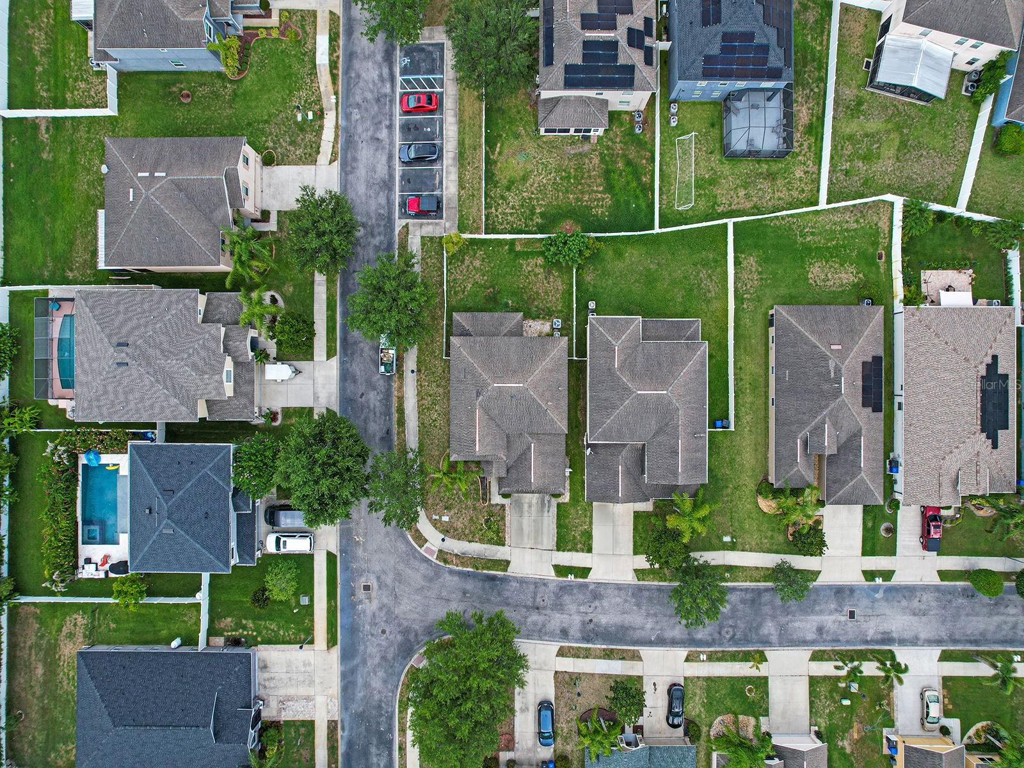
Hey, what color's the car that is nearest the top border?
red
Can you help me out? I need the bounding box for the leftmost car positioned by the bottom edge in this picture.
[536,701,555,743]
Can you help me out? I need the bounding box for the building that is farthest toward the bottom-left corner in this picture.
[76,646,269,768]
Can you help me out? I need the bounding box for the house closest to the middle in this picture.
[449,312,568,495]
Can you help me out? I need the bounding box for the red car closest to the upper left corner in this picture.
[401,93,440,114]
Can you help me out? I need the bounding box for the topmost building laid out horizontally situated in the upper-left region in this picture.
[93,0,263,69]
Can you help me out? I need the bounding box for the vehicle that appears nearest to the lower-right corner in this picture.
[920,686,943,729]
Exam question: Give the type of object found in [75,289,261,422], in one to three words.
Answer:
house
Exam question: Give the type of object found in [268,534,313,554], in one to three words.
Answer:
car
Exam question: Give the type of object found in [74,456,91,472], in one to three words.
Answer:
umbrella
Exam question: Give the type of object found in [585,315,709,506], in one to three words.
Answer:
house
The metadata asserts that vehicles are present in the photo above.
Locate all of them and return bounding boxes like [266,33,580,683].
[399,143,440,164]
[268,534,313,554]
[377,334,397,374]
[666,683,686,725]
[265,507,311,528]
[920,508,945,552]
[401,93,440,114]
[920,686,943,729]
[536,701,555,743]
[407,195,444,215]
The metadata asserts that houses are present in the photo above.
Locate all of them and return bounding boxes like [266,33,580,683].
[878,0,1024,66]
[93,0,263,69]
[128,442,261,573]
[538,0,656,143]
[105,136,262,271]
[669,0,794,99]
[894,306,1017,509]
[769,305,885,505]
[894,736,1020,768]
[584,728,697,768]
[75,289,261,422]
[585,315,709,506]
[76,646,269,768]
[449,312,568,495]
